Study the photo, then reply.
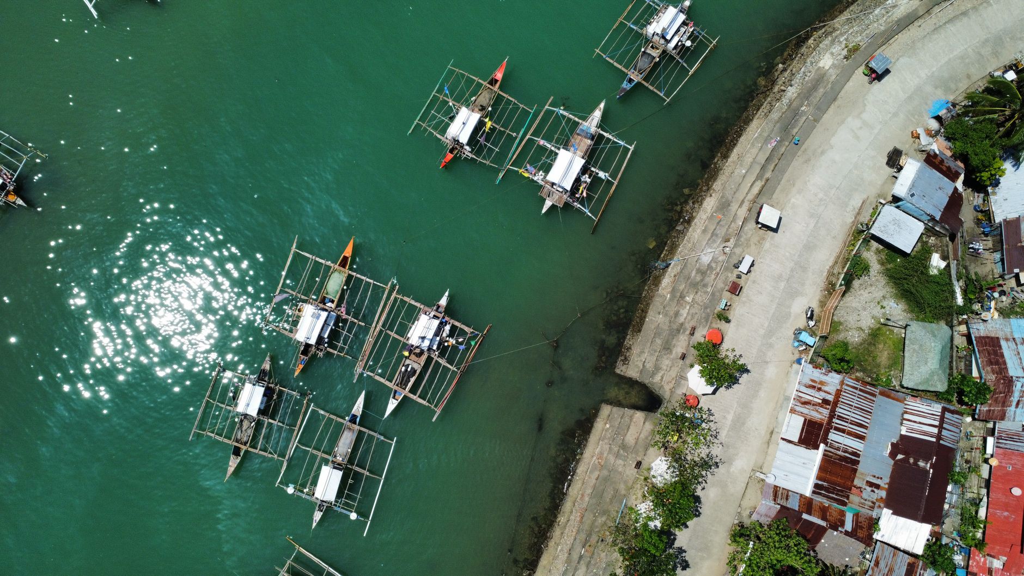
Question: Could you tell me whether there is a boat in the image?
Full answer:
Yes, the frame does contain a boat.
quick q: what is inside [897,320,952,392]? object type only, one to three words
shed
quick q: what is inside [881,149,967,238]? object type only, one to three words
house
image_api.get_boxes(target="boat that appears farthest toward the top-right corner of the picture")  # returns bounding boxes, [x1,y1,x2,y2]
[593,0,721,105]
